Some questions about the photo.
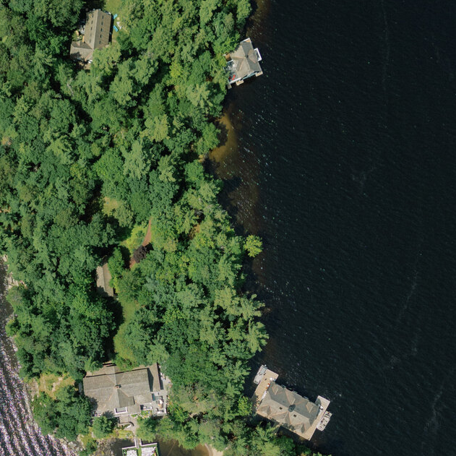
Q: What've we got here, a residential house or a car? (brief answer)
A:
residential house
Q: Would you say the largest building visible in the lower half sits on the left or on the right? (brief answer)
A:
left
